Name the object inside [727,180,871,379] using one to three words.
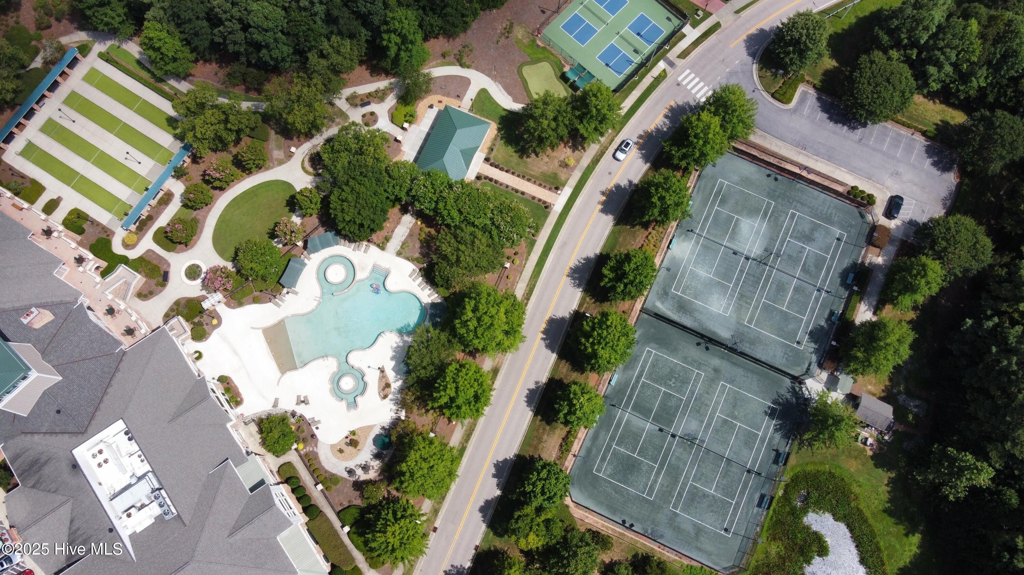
tennis court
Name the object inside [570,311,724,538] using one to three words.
tennis court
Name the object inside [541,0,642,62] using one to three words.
sports court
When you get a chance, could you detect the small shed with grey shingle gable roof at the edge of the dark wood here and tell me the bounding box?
[854,393,893,432]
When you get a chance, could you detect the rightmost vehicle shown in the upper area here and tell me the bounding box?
[889,198,906,224]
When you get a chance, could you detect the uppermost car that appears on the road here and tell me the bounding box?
[614,136,634,160]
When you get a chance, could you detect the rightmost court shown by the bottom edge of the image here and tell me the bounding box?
[648,349,804,575]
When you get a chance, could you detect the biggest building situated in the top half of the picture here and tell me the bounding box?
[416,104,491,181]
